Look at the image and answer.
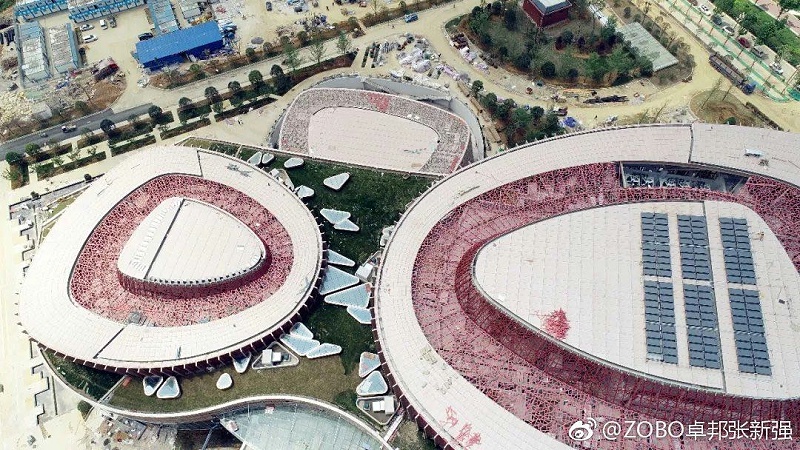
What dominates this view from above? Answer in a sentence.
The largest share of the image is taken up by buildings.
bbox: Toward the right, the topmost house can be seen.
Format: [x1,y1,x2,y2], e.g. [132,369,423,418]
[515,0,576,29]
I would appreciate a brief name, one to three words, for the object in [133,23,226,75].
shed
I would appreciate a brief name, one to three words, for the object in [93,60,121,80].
vehicle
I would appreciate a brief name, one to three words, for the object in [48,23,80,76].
shed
